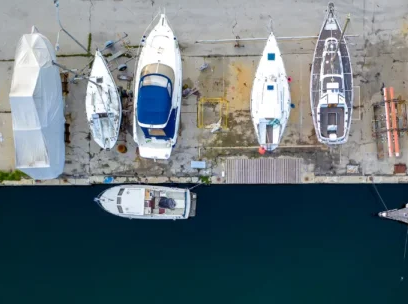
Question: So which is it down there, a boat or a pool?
boat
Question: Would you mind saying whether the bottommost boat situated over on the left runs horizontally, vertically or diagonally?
horizontally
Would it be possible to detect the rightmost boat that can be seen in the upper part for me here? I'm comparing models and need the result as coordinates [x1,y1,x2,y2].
[310,0,352,146]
